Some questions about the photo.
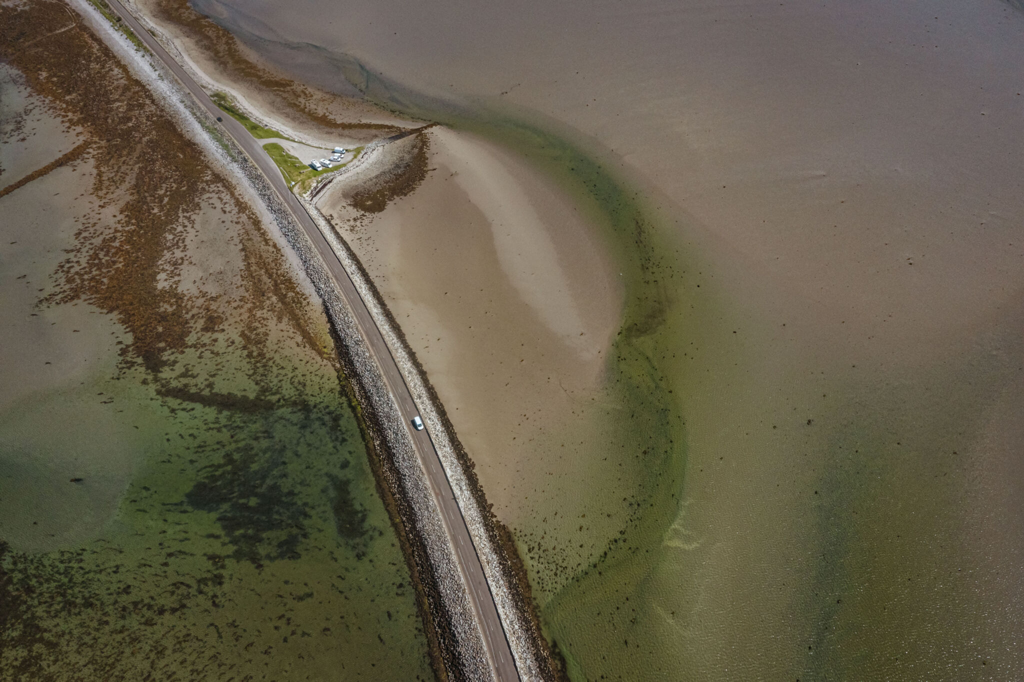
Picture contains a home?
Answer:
No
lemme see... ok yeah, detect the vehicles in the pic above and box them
[335,153,344,158]
[414,416,423,430]
[311,159,321,170]
[330,156,340,161]
[319,159,332,168]
[334,147,345,154]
